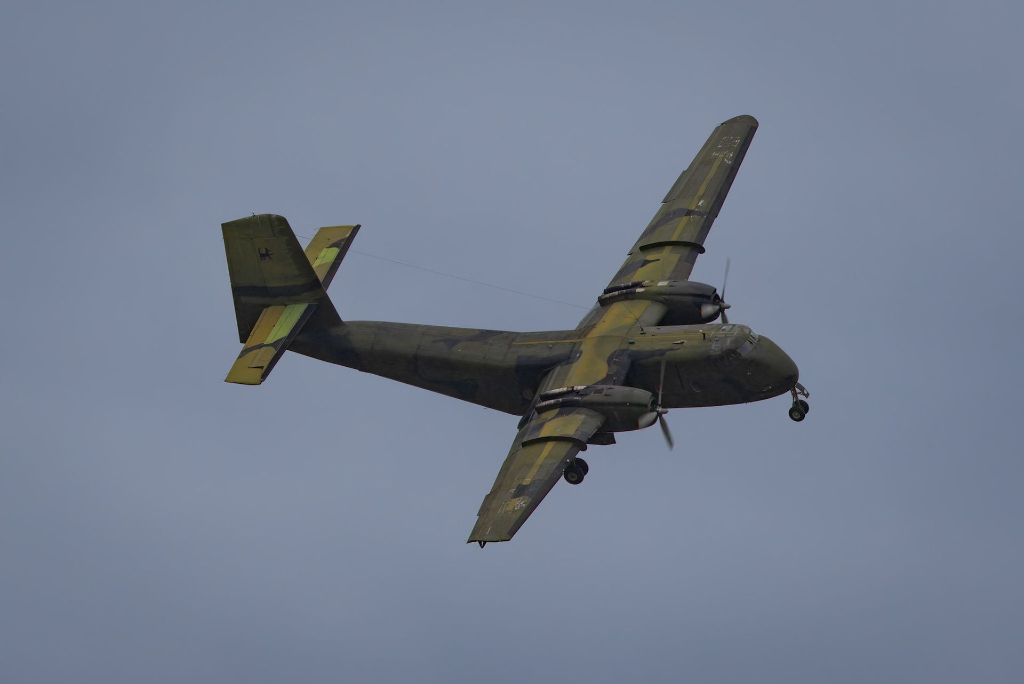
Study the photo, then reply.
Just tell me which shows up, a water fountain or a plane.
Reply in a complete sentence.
Visible in the photo is a plane.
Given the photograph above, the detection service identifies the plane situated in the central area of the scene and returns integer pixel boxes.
[219,115,810,549]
